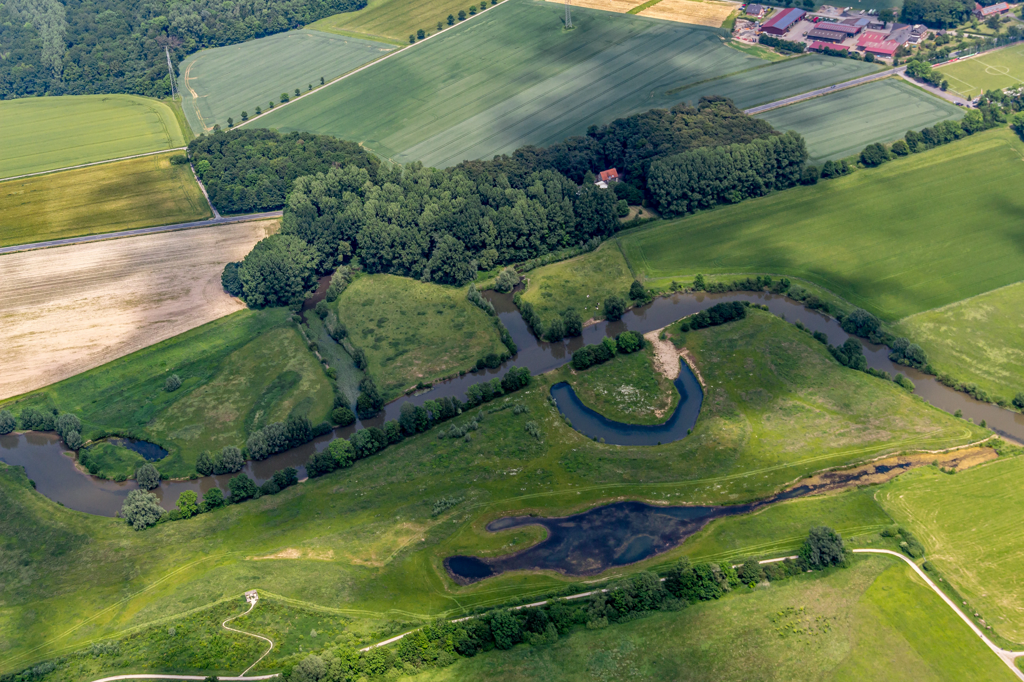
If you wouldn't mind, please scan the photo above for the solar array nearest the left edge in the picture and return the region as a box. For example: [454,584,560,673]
[772,6,805,29]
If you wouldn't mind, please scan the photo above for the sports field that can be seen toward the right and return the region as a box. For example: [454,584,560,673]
[935,44,1024,97]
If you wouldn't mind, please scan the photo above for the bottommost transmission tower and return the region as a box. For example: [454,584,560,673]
[166,47,181,100]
